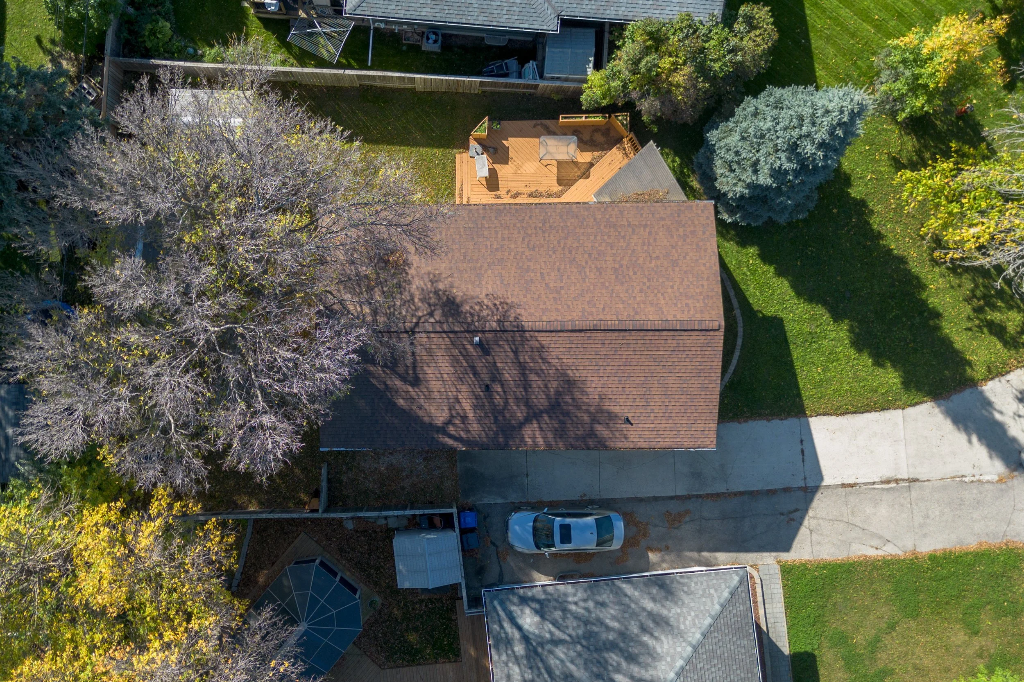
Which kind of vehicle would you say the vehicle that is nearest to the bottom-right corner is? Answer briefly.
automobile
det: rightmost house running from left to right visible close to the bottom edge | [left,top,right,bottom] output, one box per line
[481,564,760,682]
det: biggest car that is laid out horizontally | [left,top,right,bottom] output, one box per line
[504,505,623,563]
